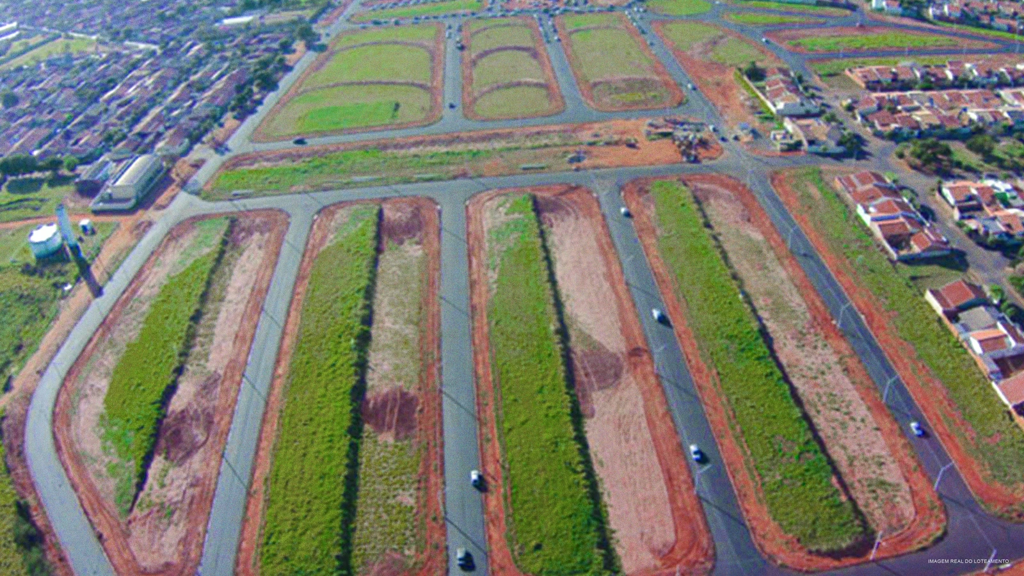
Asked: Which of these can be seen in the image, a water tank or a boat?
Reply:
water tank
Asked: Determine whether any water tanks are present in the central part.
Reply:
No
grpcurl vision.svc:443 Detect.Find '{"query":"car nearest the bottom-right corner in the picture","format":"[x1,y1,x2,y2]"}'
[912,422,926,437]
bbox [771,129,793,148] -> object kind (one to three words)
house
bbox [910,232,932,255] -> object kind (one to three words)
house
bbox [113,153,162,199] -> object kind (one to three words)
building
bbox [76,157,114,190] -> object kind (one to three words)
shed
